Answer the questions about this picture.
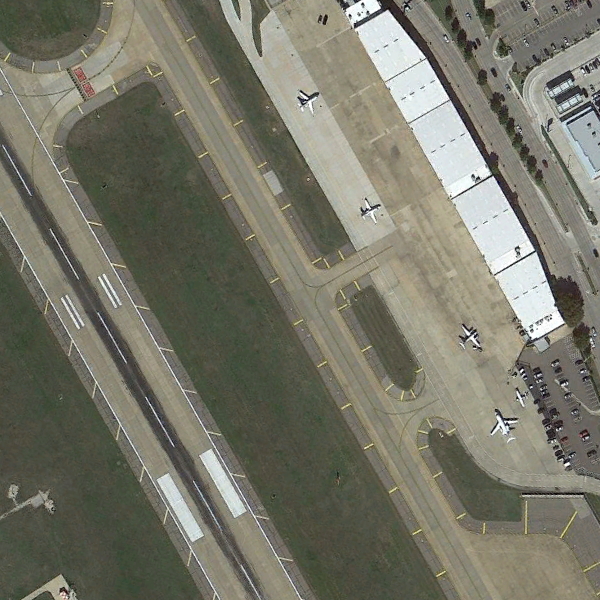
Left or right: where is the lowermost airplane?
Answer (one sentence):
The lowermost airplane is on the right side of the image.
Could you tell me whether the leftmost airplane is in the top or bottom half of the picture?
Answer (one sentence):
The top half of the photo is where the leftmost airplane is.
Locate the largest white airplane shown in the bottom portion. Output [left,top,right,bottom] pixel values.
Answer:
[491,411,519,444]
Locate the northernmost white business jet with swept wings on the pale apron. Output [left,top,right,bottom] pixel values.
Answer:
[295,90,319,115]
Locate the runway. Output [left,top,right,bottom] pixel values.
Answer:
[0,67,305,600]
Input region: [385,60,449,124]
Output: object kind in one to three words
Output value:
hangar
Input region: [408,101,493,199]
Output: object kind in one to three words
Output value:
hangar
